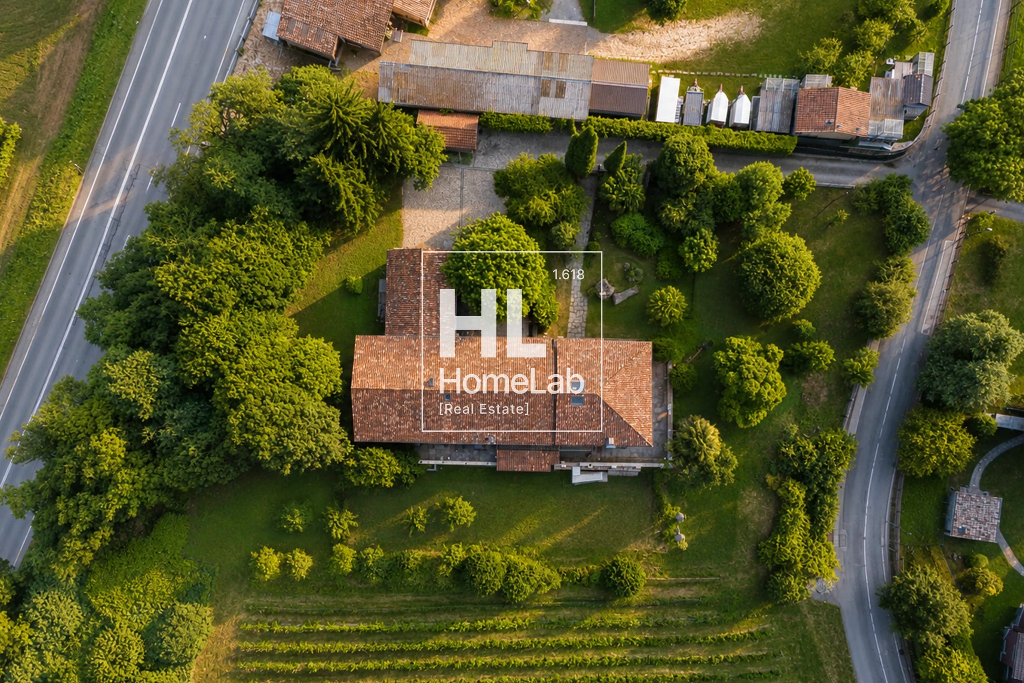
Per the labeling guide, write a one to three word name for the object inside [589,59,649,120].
shed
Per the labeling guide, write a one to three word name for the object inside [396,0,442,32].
barn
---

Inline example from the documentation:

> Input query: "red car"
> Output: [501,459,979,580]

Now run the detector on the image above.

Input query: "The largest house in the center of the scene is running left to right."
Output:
[351,335,654,448]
